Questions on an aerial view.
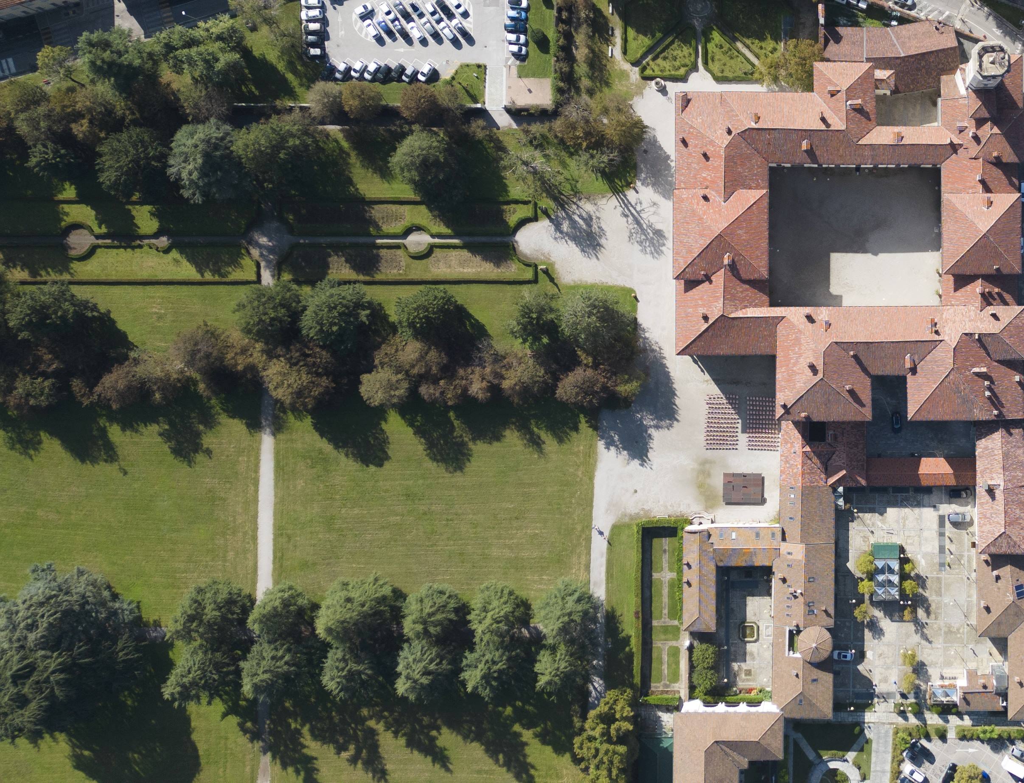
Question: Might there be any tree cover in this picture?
Yes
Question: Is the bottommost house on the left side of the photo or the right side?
right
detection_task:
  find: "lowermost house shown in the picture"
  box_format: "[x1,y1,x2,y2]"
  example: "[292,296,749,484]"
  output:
[673,700,784,783]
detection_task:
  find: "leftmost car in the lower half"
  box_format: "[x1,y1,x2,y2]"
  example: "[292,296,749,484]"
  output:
[832,650,856,662]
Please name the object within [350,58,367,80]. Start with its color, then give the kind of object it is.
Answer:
white car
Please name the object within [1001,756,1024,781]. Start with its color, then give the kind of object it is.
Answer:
white vehicle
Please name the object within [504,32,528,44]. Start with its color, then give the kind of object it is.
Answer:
white vehicle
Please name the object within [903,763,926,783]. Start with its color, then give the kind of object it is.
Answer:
white car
